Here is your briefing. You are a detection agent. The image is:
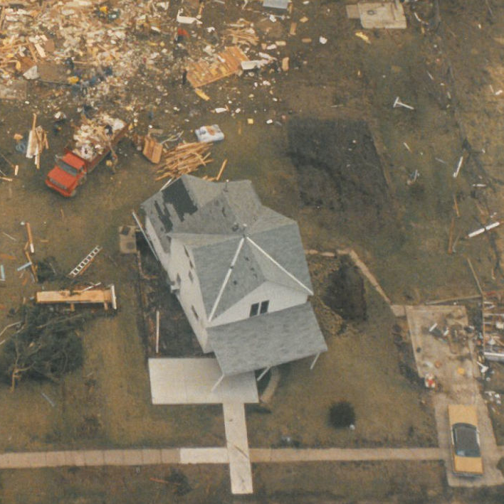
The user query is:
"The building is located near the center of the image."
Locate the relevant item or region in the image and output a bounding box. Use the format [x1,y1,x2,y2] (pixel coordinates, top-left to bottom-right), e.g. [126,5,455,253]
[137,175,327,394]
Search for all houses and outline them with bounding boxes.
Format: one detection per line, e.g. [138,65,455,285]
[137,175,327,394]
[479,292,504,361]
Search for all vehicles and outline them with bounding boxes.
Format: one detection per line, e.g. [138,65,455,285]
[46,111,139,203]
[446,404,482,483]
